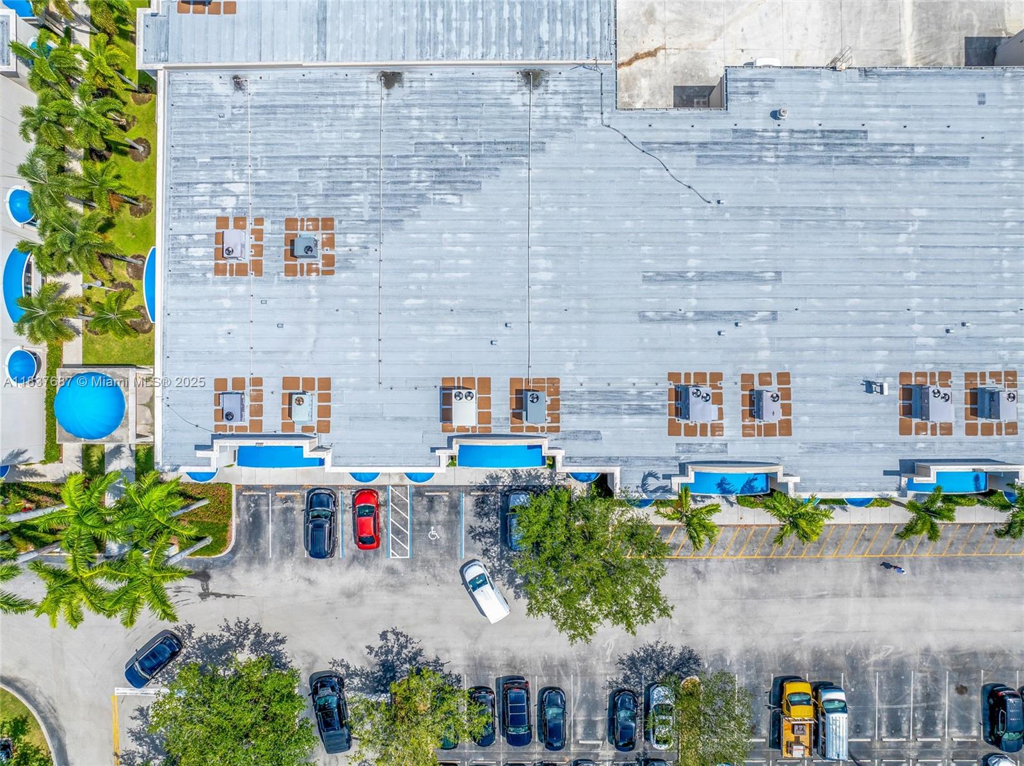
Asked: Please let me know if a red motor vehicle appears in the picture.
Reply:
Yes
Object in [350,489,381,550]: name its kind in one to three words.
car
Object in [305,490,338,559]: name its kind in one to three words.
car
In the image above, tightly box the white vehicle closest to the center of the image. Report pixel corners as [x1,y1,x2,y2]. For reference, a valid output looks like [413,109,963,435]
[463,558,509,627]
